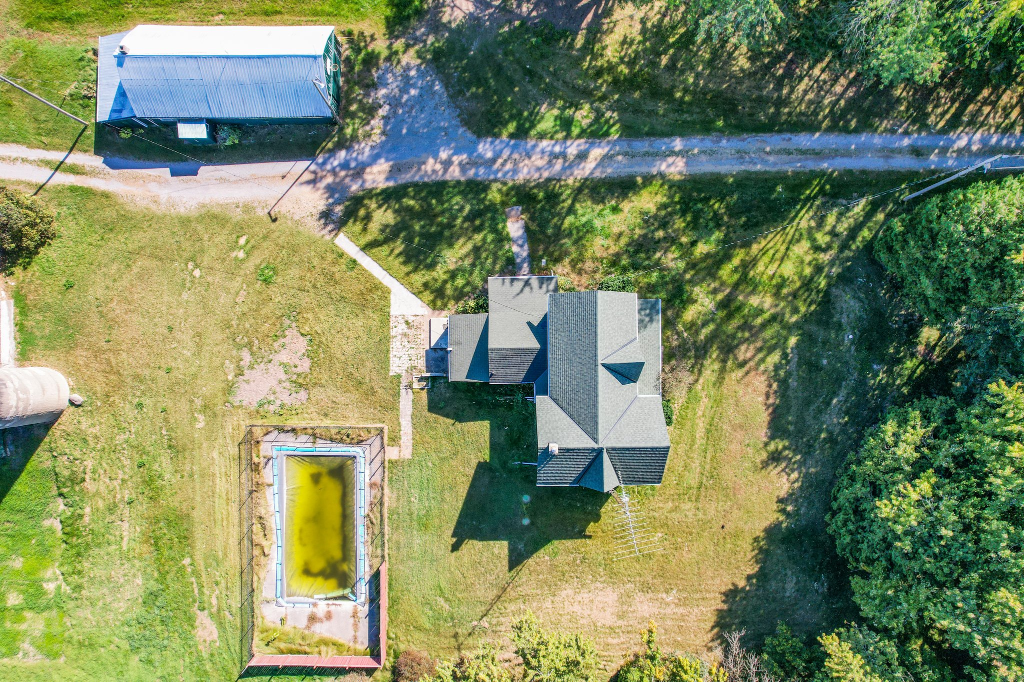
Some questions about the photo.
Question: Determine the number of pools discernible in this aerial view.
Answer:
one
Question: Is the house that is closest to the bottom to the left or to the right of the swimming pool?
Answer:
to the right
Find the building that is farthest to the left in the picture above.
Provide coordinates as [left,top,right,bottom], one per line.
[97,24,342,148]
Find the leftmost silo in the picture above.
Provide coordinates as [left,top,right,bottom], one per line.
[0,367,69,430]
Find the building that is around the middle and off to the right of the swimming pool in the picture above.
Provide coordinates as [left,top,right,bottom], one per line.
[445,275,672,500]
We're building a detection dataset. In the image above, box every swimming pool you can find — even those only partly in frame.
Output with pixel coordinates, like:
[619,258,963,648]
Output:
[270,444,368,607]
